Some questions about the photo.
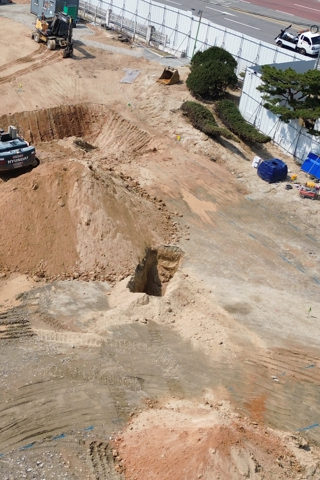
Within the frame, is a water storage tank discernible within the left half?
No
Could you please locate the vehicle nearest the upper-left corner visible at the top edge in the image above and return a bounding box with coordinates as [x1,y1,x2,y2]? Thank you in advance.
[30,7,75,59]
